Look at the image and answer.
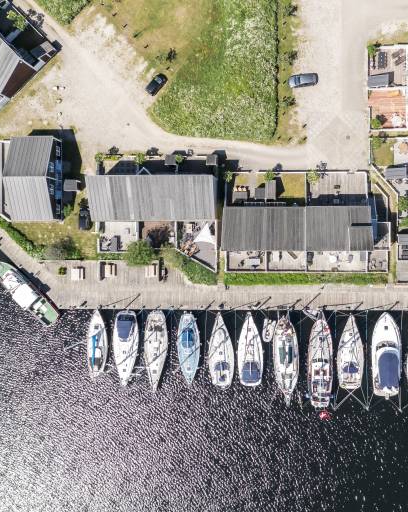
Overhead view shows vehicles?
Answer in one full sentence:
Yes, a vehicle is visible in the scene.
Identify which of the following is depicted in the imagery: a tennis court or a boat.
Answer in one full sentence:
It is a boat that can be seen here.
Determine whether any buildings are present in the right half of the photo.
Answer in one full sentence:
Yes, I can see a building in the right half of the photo.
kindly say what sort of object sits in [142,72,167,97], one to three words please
car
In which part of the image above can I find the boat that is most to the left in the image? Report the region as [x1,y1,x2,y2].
[0,264,62,327]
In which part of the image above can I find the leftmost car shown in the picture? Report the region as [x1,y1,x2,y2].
[75,207,90,232]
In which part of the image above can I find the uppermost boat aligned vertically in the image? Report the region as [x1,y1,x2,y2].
[262,310,274,343]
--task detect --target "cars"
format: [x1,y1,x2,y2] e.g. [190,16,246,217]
[288,71,318,87]
[75,207,90,232]
[142,72,167,97]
